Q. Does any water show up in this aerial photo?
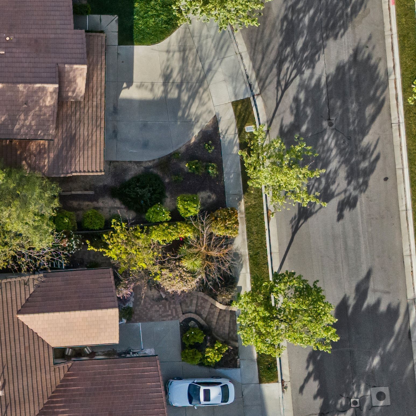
No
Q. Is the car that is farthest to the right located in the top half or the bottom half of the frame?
bottom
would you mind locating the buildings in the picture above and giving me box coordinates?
[0,0,107,178]
[0,264,169,416]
